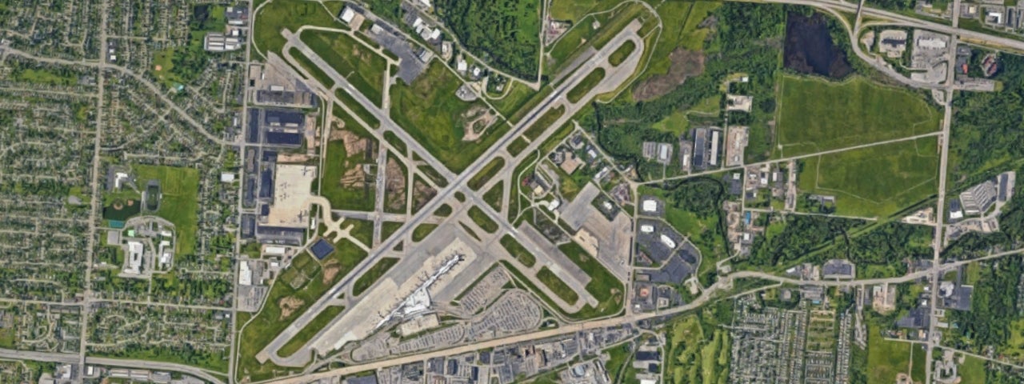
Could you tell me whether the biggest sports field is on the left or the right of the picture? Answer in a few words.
left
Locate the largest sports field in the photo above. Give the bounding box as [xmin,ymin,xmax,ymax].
[107,165,198,256]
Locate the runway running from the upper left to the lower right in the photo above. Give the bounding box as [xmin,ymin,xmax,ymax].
[287,27,599,308]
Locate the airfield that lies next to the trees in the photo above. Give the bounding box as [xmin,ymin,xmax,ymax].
[237,0,662,382]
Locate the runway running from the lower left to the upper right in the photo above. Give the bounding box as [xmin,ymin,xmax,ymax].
[260,22,640,360]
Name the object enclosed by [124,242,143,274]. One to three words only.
building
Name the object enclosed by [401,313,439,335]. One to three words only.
building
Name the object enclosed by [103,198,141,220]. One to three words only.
baseball field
